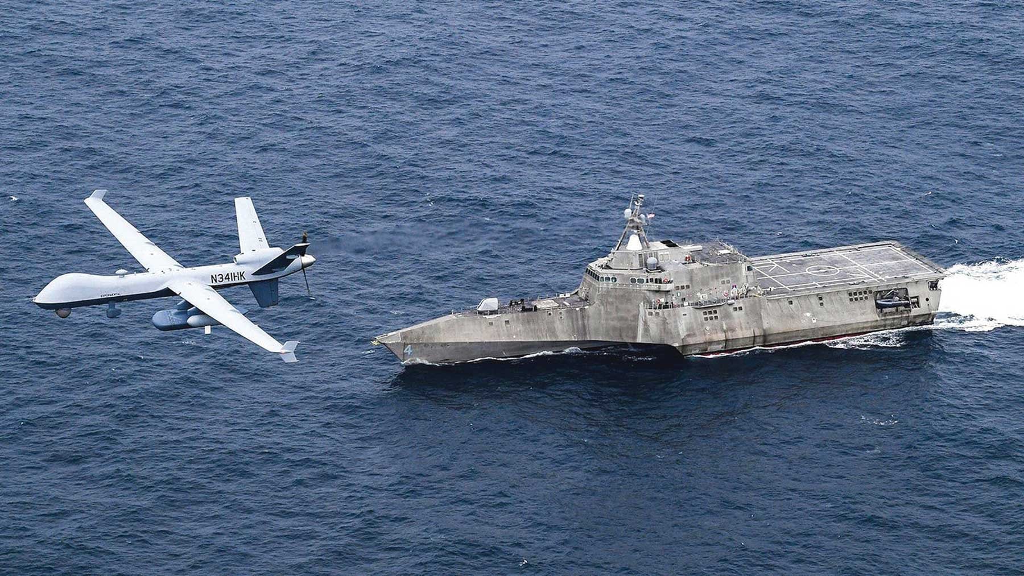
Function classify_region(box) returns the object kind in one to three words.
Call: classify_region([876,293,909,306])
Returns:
boat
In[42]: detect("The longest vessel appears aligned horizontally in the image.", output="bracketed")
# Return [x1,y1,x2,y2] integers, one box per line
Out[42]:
[371,194,950,366]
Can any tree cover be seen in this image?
No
